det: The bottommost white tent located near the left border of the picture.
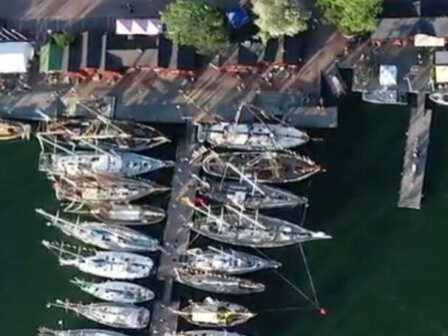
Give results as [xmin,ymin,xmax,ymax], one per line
[0,43,39,78]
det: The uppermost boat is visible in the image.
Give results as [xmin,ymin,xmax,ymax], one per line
[329,69,344,96]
